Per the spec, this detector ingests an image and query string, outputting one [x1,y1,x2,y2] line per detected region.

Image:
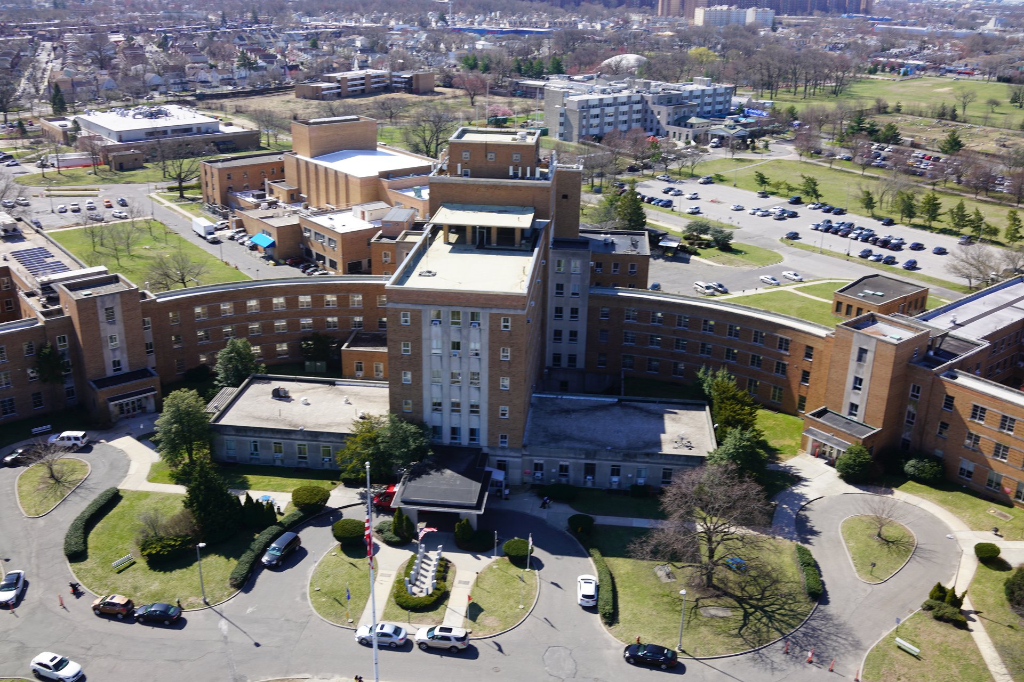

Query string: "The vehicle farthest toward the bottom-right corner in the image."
[624,642,678,670]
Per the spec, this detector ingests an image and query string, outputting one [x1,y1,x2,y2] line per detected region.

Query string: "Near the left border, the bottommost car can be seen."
[32,650,80,682]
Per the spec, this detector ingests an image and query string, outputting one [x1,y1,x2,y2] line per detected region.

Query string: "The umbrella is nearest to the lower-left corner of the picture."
[255,481,274,501]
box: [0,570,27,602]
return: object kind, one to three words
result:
car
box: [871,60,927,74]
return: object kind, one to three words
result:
building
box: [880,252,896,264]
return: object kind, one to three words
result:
vehicle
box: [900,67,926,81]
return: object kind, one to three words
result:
building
